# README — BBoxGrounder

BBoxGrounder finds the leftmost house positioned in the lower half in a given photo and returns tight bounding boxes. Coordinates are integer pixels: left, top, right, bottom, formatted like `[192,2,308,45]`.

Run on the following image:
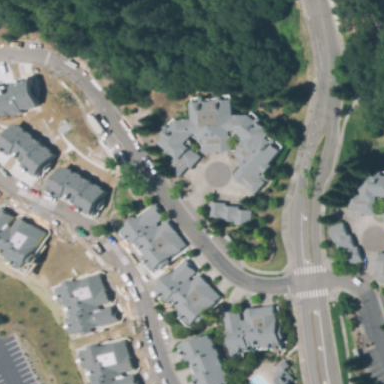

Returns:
[0,209,49,270]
